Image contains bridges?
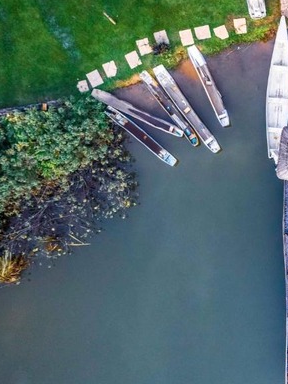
No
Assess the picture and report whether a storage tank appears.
No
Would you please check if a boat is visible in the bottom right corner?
No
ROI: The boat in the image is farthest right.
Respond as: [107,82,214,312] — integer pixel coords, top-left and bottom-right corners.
[267,15,288,168]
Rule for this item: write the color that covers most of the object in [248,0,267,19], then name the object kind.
white boat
